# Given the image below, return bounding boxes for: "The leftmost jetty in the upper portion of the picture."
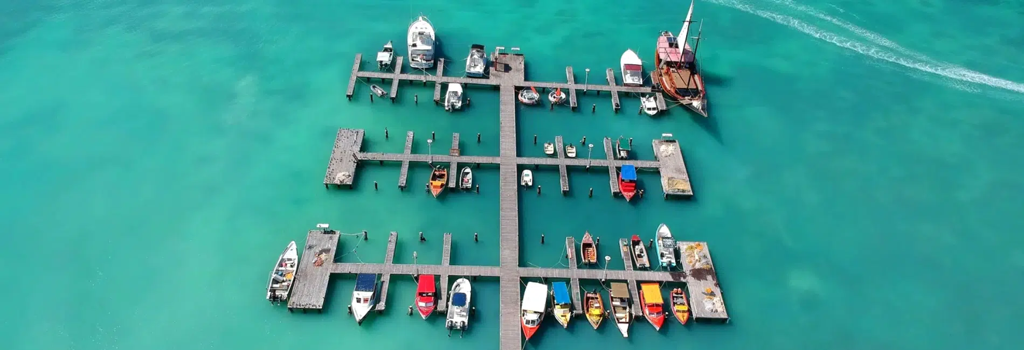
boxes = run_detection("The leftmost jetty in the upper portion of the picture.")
[346,54,362,99]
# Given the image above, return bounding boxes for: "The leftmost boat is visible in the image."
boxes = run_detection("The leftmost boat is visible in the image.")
[264,240,297,308]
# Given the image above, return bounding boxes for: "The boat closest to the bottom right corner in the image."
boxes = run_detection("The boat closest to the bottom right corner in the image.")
[668,287,689,327]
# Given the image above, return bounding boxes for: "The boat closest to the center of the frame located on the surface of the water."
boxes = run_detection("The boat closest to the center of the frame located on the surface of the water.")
[521,169,533,192]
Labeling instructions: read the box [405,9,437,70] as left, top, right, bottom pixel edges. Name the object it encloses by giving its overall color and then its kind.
white boat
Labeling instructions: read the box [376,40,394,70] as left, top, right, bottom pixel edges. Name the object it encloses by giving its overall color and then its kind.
white boat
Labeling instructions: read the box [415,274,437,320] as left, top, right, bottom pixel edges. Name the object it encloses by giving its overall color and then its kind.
red boat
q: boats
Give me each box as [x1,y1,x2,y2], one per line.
[447,275,473,338]
[566,143,577,159]
[465,44,487,78]
[460,166,473,192]
[641,94,659,118]
[264,240,297,308]
[610,281,635,338]
[579,231,596,269]
[639,281,664,332]
[370,86,388,98]
[668,287,689,327]
[551,282,573,329]
[405,9,437,70]
[376,40,394,70]
[428,165,447,200]
[519,87,541,107]
[521,169,533,192]
[583,288,605,330]
[618,161,639,204]
[444,83,464,115]
[631,235,650,271]
[616,133,630,160]
[519,279,551,341]
[352,271,379,326]
[544,140,554,156]
[653,223,677,272]
[553,88,570,108]
[619,46,643,90]
[415,274,437,320]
